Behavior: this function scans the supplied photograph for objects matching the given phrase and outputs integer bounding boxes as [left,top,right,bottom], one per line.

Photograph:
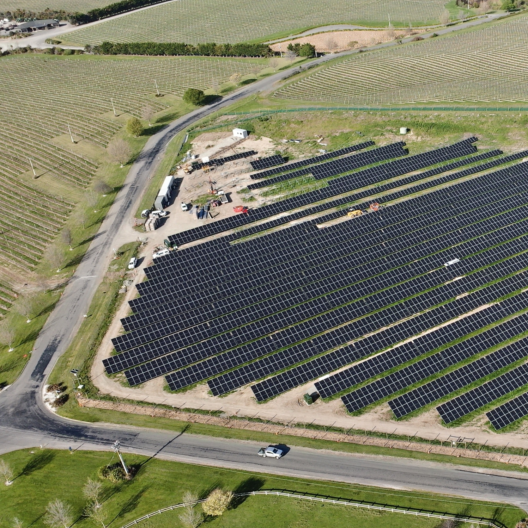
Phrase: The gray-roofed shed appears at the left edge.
[7,17,66,32]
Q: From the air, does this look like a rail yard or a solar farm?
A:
solar farm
